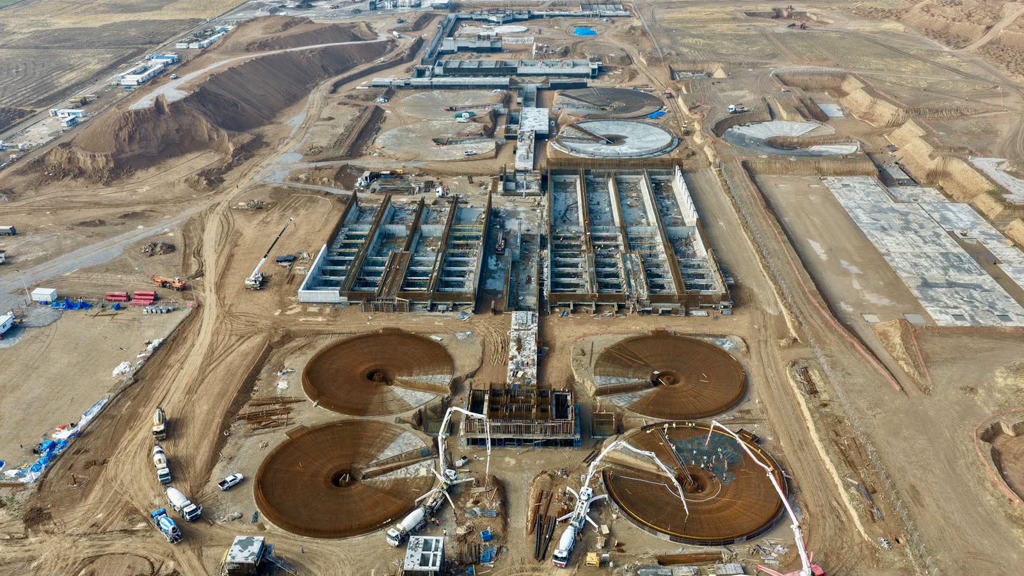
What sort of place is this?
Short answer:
industrial area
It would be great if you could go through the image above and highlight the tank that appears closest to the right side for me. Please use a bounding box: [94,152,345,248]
[722,121,845,154]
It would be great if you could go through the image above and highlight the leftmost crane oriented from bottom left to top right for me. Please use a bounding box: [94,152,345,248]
[237,220,296,295]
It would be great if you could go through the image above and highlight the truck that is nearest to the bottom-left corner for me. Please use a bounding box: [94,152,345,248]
[146,501,183,548]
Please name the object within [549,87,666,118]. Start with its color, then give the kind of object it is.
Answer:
gray storage tank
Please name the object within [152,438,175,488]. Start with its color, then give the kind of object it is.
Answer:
white truck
